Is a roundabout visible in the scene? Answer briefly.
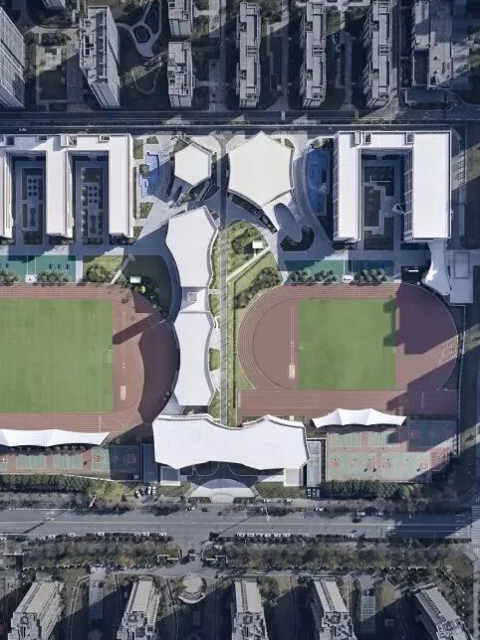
No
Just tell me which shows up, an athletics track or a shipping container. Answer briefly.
athletics track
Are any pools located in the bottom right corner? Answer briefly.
No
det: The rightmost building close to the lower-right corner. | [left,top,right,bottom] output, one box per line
[414,586,477,640]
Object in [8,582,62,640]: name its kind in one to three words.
building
